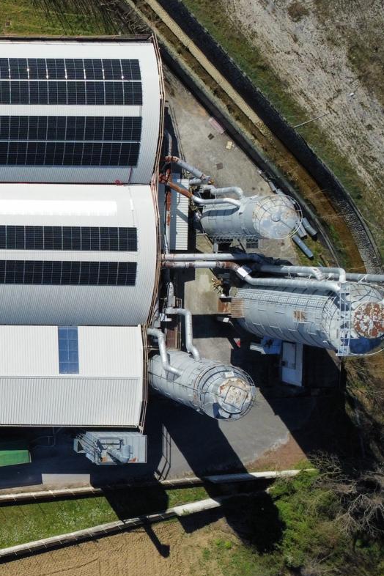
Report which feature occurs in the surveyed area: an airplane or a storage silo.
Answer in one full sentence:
This aerial view contains a storage silo.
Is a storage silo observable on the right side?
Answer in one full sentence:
Yes, there is a storage silo on the right side.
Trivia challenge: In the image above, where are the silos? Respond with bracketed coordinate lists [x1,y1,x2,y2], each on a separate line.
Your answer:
[222,277,384,356]
[203,191,309,244]
[152,353,259,423]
